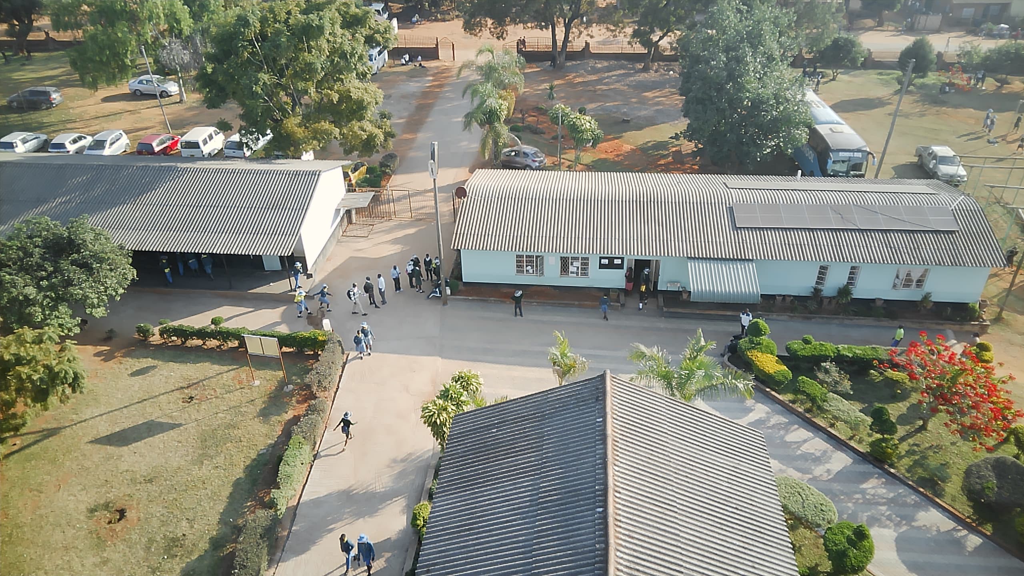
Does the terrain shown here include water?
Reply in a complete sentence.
No, water can't be seen anywhere here.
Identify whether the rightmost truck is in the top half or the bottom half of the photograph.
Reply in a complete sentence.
Seen from above, the rightmost truck lies in the top half of the view.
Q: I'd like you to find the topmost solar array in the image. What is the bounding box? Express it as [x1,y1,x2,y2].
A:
[719,176,930,189]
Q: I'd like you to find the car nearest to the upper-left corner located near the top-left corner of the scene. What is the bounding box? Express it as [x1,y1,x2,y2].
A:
[0,86,66,111]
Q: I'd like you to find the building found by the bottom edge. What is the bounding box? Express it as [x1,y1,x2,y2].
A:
[413,369,805,576]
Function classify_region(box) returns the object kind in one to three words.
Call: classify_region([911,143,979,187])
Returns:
truck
